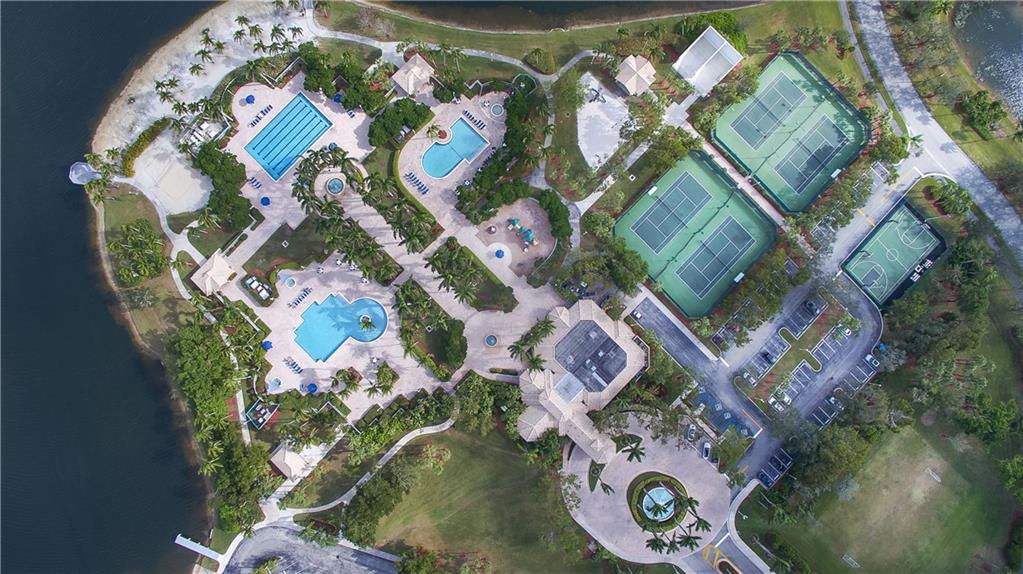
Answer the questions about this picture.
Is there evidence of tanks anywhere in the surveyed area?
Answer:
No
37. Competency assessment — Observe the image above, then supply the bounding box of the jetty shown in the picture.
[175,534,221,562]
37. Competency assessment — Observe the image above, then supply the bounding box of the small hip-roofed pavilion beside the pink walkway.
[269,445,308,482]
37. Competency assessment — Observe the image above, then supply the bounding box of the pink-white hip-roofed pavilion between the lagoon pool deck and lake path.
[189,249,236,295]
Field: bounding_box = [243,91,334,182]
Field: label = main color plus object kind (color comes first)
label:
blue swimming pool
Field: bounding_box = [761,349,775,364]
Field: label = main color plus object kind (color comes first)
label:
blue vehicle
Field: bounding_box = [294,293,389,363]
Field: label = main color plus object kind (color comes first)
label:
blue swimming pool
